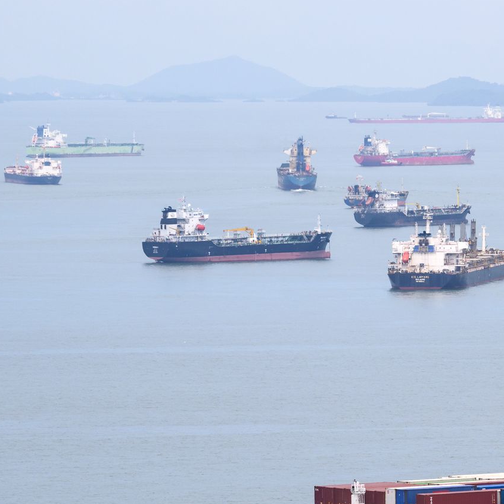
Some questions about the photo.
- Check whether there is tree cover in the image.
No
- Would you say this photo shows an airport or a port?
port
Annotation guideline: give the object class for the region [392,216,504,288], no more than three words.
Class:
ship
